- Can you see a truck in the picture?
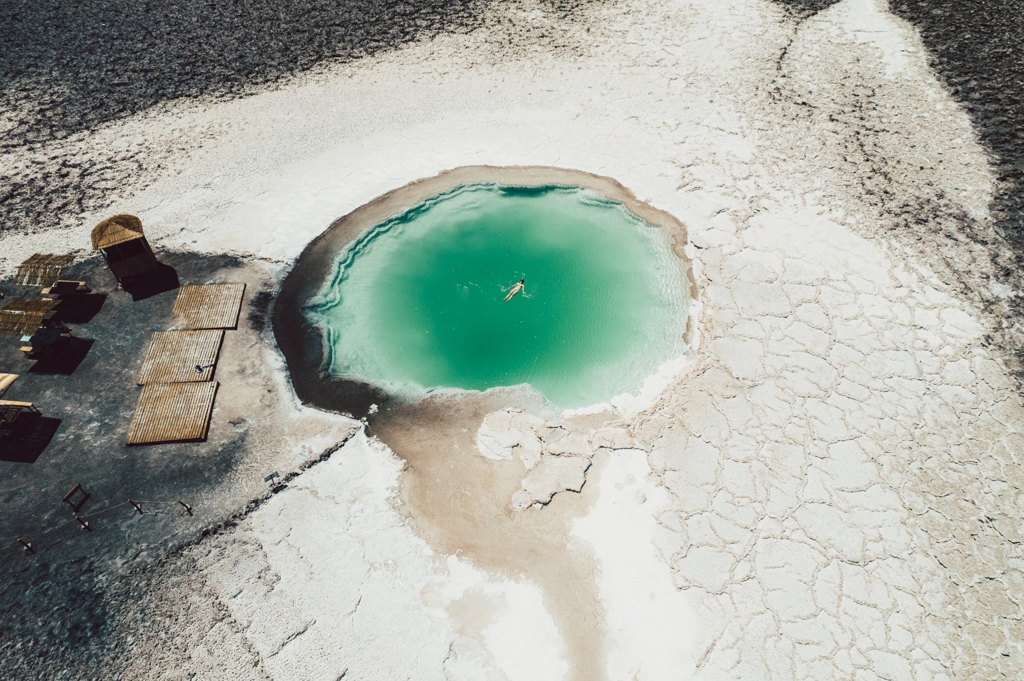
No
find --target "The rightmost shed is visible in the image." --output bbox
[88,212,162,283]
